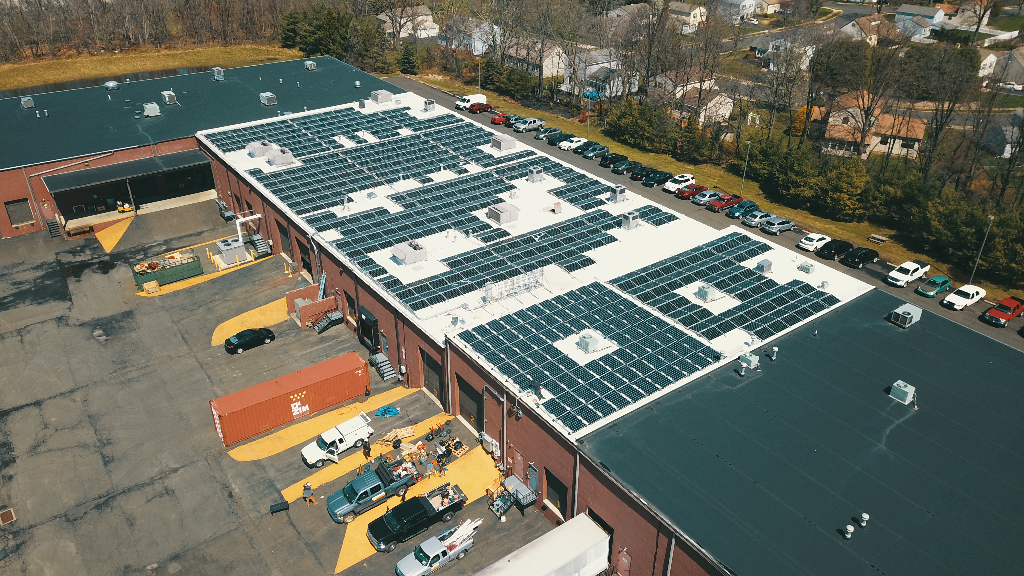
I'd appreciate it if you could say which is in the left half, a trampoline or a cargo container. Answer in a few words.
cargo container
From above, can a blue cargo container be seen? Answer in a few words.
No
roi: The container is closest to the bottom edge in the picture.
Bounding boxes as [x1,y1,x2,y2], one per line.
[210,351,370,445]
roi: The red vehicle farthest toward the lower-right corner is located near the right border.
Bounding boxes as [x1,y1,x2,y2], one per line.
[981,290,1024,328]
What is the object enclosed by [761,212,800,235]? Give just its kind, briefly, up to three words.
car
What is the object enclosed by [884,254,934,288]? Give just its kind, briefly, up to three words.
truck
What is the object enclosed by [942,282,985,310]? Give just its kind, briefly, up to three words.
car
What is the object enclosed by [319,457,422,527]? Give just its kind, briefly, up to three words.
truck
